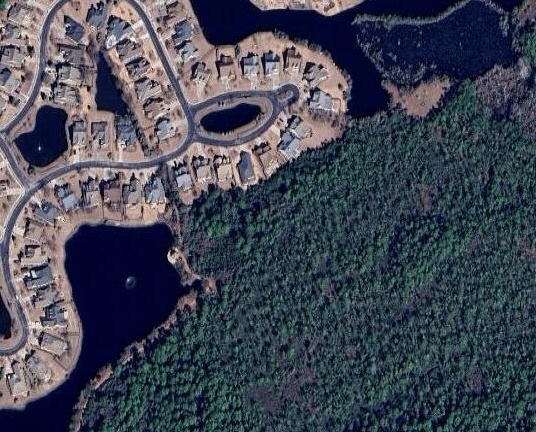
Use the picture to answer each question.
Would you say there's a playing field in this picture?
No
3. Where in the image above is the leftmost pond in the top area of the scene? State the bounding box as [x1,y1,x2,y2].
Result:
[17,106,66,165]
